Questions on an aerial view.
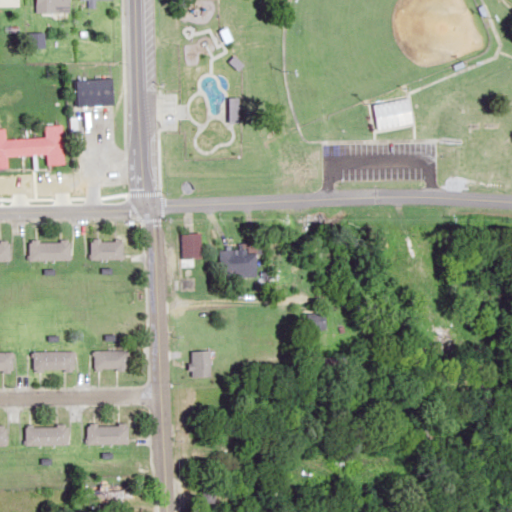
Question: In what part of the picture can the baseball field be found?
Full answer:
The baseball field is located in the top right region of the scene.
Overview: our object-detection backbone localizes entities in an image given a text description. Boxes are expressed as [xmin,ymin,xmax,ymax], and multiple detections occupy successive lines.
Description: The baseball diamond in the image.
[286,0,487,125]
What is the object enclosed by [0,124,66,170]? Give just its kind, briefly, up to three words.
building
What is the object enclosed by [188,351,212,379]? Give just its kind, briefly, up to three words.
house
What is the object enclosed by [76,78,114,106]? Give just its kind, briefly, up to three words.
building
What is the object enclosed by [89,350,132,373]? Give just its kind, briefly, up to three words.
house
